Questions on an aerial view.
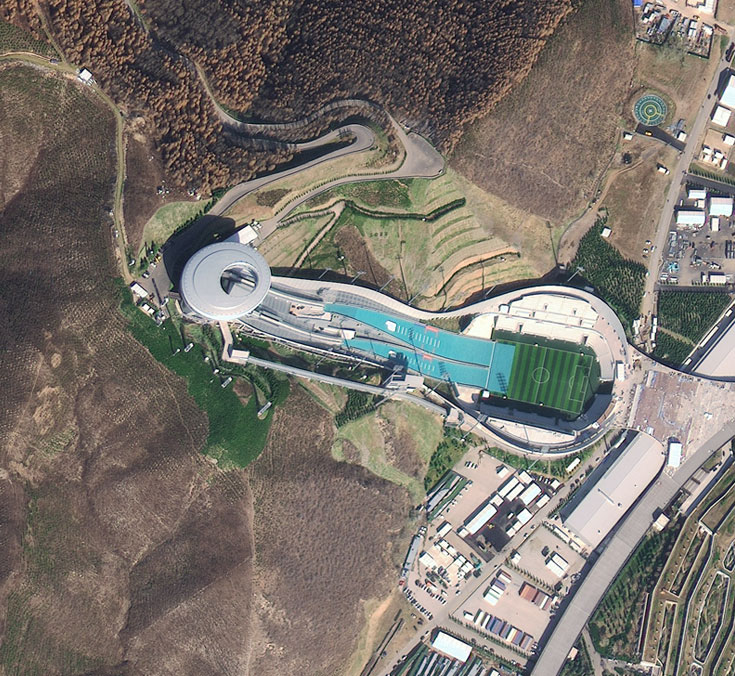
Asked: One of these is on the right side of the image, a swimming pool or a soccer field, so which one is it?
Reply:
soccer field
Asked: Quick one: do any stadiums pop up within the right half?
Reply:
Yes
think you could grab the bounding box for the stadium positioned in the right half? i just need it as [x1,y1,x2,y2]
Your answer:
[423,293,616,456]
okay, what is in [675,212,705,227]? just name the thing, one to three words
shed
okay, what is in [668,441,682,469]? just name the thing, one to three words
shed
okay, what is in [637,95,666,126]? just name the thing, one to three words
helipad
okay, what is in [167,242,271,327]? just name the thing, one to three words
building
